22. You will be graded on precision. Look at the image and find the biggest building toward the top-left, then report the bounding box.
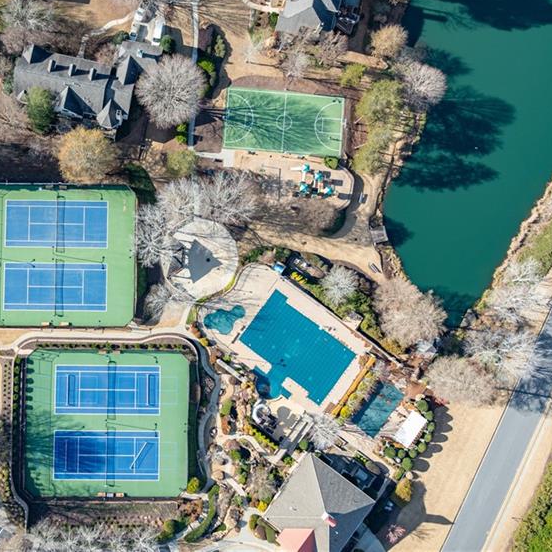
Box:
[10,35,166,132]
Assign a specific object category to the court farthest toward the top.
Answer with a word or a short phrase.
basketball court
